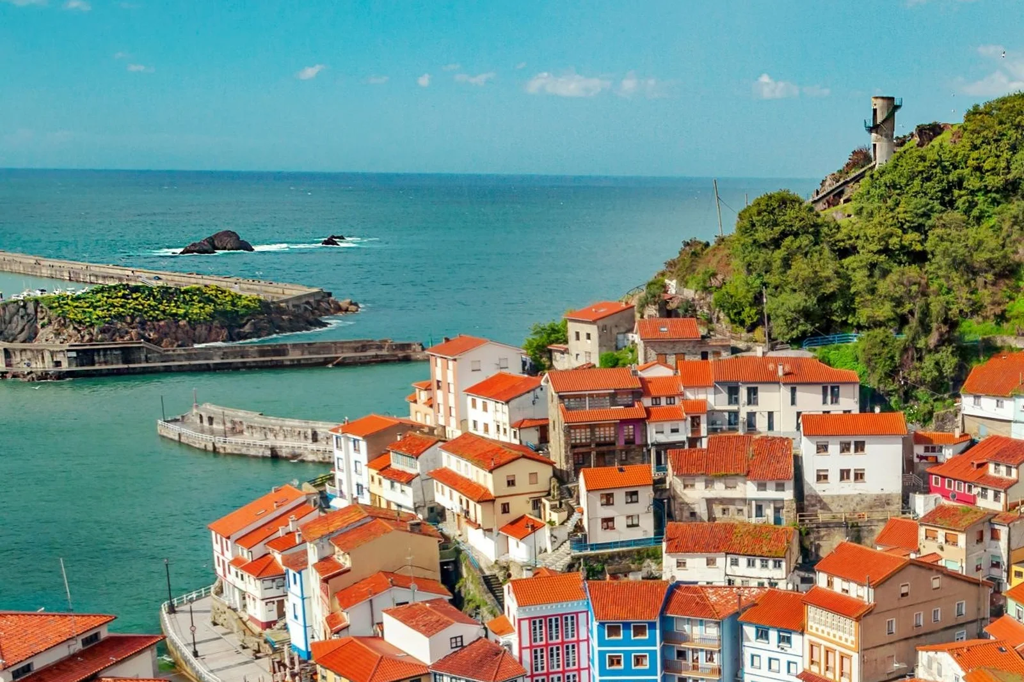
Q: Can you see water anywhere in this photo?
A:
Yes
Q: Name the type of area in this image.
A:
residential area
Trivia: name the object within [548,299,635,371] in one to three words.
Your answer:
house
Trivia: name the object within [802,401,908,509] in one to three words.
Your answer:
house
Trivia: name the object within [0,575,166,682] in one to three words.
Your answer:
building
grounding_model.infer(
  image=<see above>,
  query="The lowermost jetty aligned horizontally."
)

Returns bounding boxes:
[158,391,406,465]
